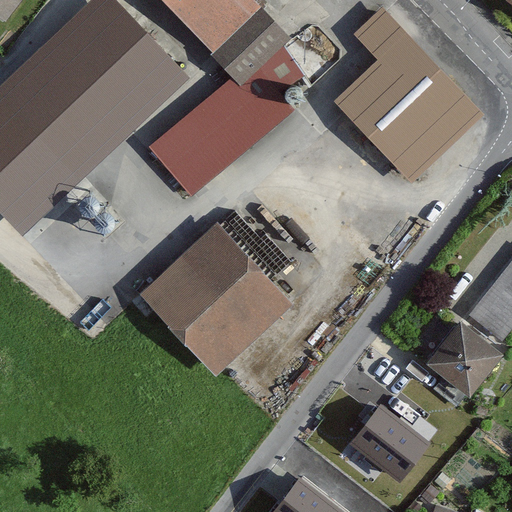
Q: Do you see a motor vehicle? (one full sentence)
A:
Yes, the picture does show a motor vehicle.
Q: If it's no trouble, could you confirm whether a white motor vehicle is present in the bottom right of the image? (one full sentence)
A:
Yes, looking in the bottom right of the image, one can make out a white motor vehicle.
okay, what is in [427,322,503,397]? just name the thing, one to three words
house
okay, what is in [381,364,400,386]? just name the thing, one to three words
car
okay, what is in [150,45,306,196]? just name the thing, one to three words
barn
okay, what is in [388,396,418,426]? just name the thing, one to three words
camper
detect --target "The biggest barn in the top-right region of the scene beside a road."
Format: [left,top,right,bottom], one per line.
[337,10,484,184]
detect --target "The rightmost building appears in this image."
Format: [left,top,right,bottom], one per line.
[469,258,512,341]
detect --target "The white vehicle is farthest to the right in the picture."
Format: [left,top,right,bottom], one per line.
[452,274,474,300]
